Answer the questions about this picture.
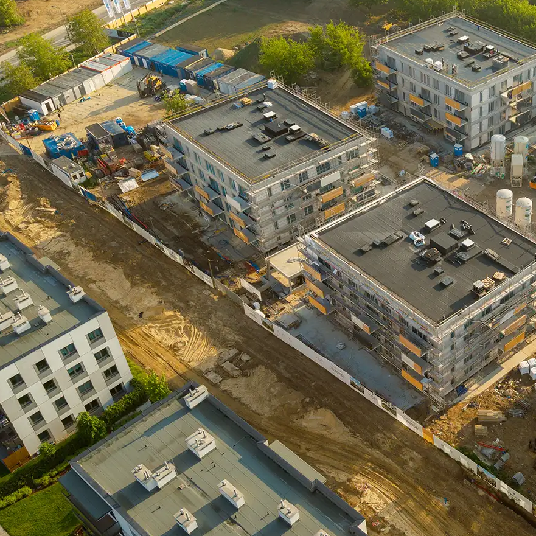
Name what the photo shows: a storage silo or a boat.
storage silo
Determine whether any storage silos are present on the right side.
Yes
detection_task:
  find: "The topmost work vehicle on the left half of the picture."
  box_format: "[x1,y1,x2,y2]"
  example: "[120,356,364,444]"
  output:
[132,76,162,97]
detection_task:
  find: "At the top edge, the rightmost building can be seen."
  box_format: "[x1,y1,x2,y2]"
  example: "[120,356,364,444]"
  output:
[375,15,536,152]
